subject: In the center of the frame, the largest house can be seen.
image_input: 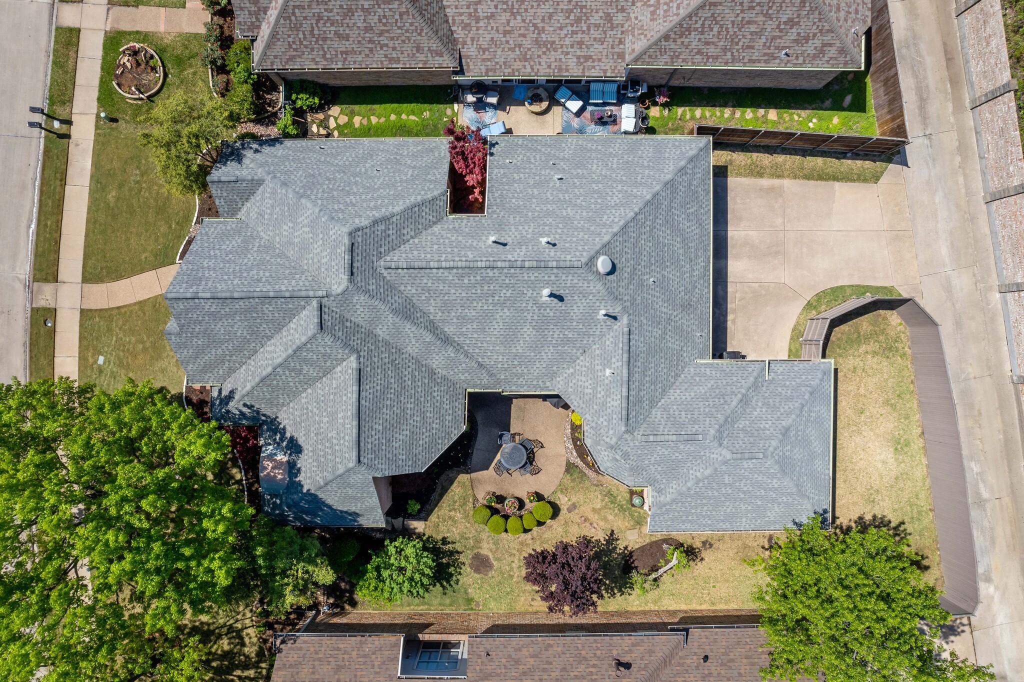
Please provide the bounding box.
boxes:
[163,133,835,534]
